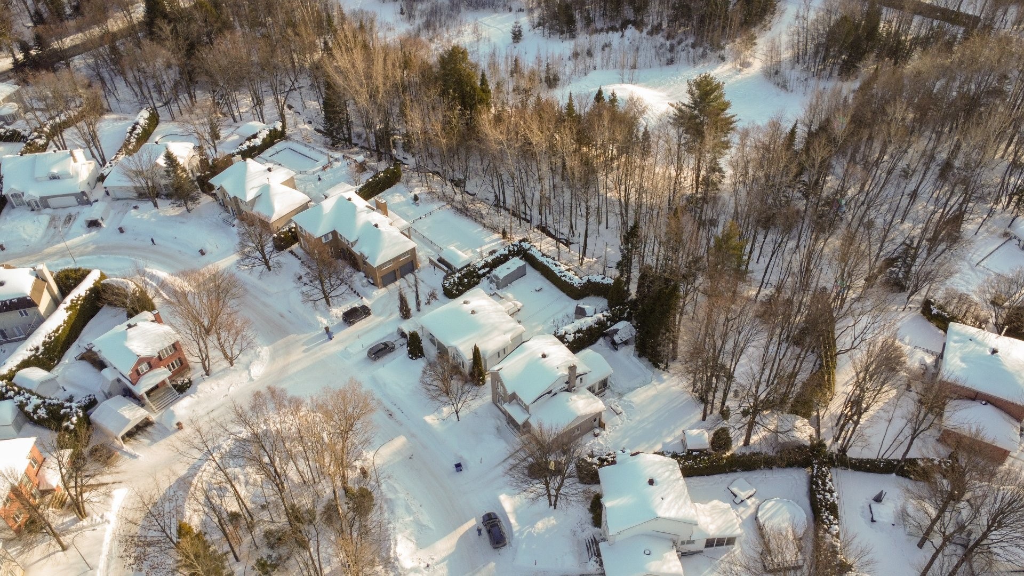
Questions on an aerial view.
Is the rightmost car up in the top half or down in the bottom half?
bottom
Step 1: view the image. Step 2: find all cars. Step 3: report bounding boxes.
[339,305,371,323]
[475,510,504,552]
[363,340,396,360]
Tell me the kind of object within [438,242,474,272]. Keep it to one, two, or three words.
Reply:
shed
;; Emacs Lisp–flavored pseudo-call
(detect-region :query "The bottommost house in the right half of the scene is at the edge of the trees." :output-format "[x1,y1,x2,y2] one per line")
[587,445,739,576]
